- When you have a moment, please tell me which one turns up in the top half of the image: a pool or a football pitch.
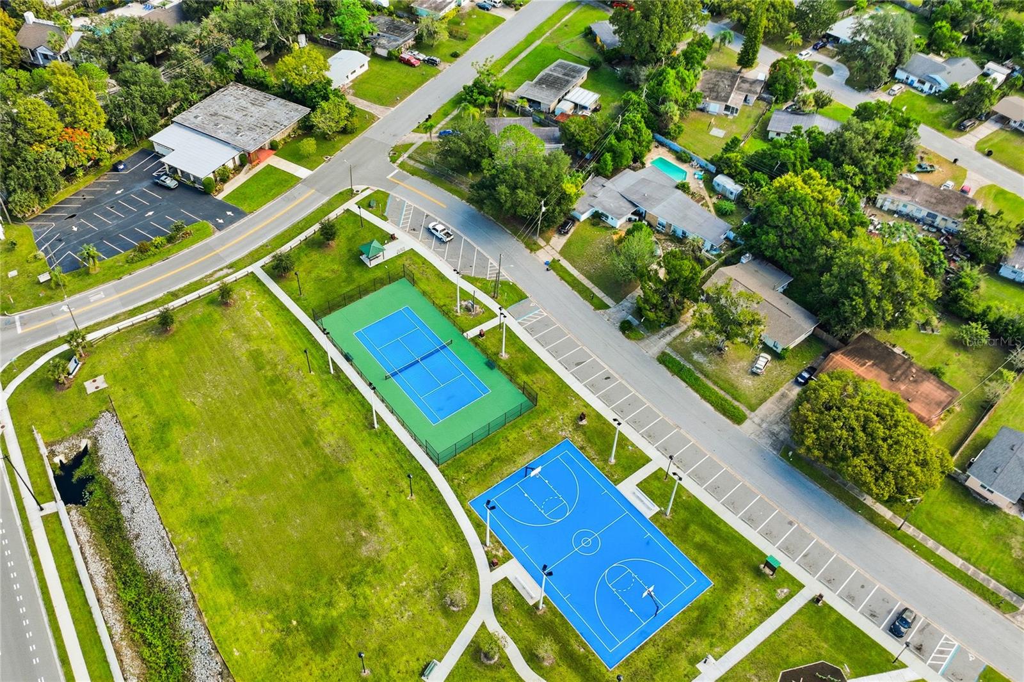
pool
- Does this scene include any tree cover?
Yes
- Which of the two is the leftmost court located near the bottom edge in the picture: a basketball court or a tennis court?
basketball court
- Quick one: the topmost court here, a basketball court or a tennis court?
tennis court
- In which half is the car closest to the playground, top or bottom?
bottom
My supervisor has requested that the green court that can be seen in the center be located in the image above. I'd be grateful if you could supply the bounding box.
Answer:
[314,276,535,463]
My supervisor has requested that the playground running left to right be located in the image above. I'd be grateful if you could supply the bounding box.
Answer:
[777,660,850,682]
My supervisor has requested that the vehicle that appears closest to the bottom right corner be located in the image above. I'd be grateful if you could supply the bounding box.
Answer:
[887,605,918,639]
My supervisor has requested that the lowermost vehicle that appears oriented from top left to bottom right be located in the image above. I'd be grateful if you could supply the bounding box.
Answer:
[428,221,455,242]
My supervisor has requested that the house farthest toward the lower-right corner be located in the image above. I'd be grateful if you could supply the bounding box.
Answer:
[962,427,1024,511]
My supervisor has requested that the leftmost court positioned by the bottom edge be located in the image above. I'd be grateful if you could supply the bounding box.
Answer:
[469,440,712,667]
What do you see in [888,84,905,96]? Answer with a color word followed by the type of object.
white vehicle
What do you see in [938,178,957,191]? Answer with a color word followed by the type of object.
white vehicle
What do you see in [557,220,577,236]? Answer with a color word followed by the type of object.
black car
